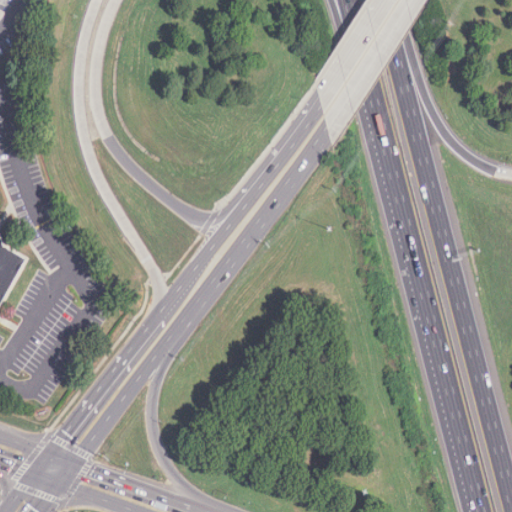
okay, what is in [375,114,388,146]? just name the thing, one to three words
vehicle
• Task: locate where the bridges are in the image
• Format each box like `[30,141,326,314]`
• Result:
[312,0,425,148]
